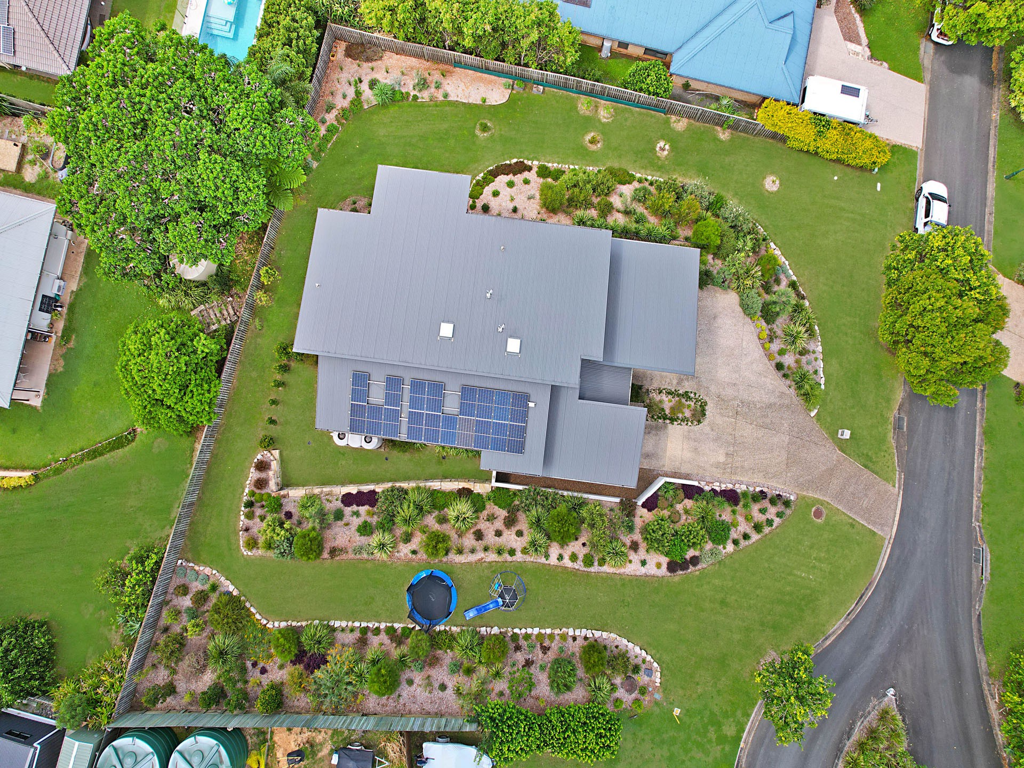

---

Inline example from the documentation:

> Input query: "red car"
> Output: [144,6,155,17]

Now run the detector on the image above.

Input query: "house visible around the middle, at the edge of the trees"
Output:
[292,163,701,490]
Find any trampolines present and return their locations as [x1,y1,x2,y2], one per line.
[402,569,457,632]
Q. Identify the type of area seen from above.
residential area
